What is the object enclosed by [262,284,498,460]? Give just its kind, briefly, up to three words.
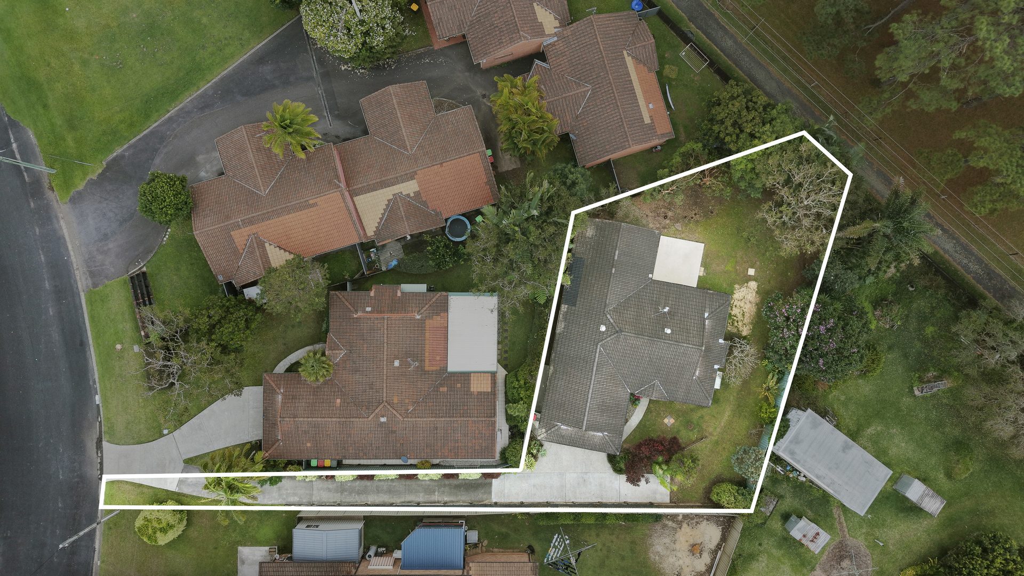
house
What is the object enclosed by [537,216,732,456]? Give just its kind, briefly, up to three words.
house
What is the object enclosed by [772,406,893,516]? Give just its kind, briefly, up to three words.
shed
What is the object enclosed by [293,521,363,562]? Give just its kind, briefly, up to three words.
shed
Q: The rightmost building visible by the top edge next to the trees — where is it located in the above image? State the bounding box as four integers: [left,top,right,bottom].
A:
[525,10,675,170]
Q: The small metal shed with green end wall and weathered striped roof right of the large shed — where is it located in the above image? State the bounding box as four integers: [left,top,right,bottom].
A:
[895,474,946,517]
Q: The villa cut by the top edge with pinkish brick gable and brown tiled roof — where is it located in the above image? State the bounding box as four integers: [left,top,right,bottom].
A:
[427,0,571,73]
